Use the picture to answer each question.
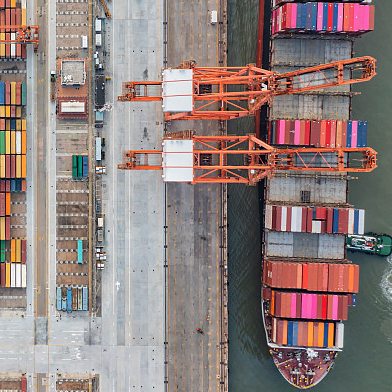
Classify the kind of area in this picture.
port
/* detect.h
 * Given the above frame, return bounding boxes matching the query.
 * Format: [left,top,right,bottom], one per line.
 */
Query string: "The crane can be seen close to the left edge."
[0,23,41,51]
